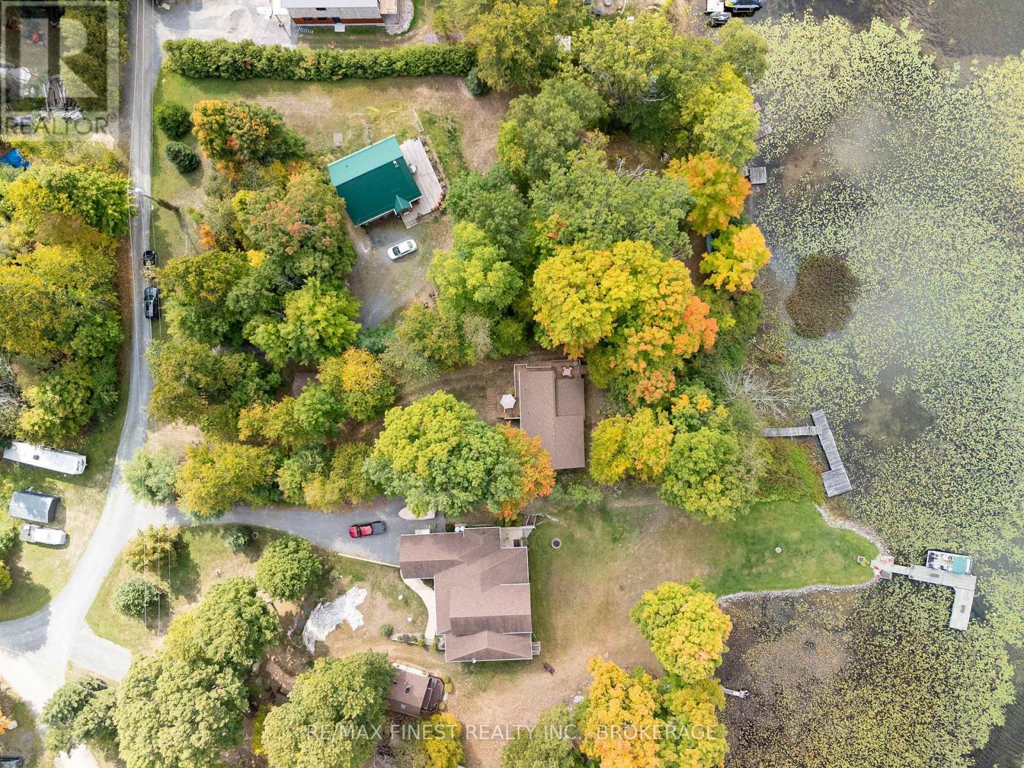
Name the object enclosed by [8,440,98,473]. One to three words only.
trailer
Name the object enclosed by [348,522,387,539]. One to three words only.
vehicle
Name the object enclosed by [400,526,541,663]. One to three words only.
house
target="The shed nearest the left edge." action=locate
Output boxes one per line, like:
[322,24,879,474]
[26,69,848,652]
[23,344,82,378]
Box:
[1,489,54,524]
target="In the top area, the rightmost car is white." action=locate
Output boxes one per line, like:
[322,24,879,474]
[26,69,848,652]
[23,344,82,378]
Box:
[385,238,417,259]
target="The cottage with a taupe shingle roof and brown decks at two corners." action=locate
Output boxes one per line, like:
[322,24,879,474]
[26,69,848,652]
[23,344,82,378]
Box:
[487,359,588,470]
